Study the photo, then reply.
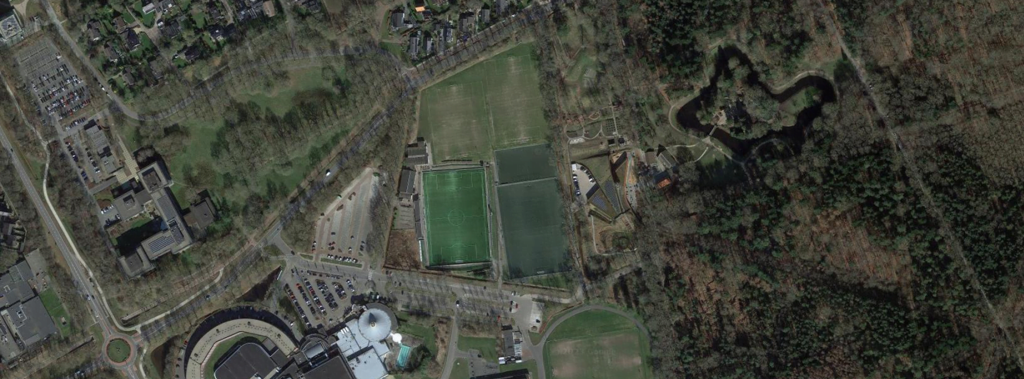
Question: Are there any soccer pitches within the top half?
Yes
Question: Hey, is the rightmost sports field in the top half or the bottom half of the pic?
bottom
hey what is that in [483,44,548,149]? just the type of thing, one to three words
soccer field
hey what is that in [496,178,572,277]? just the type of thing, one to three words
sports field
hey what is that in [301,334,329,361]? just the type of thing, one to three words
building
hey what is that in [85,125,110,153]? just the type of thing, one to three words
building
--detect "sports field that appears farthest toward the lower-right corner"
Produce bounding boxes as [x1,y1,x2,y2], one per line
[547,329,641,379]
